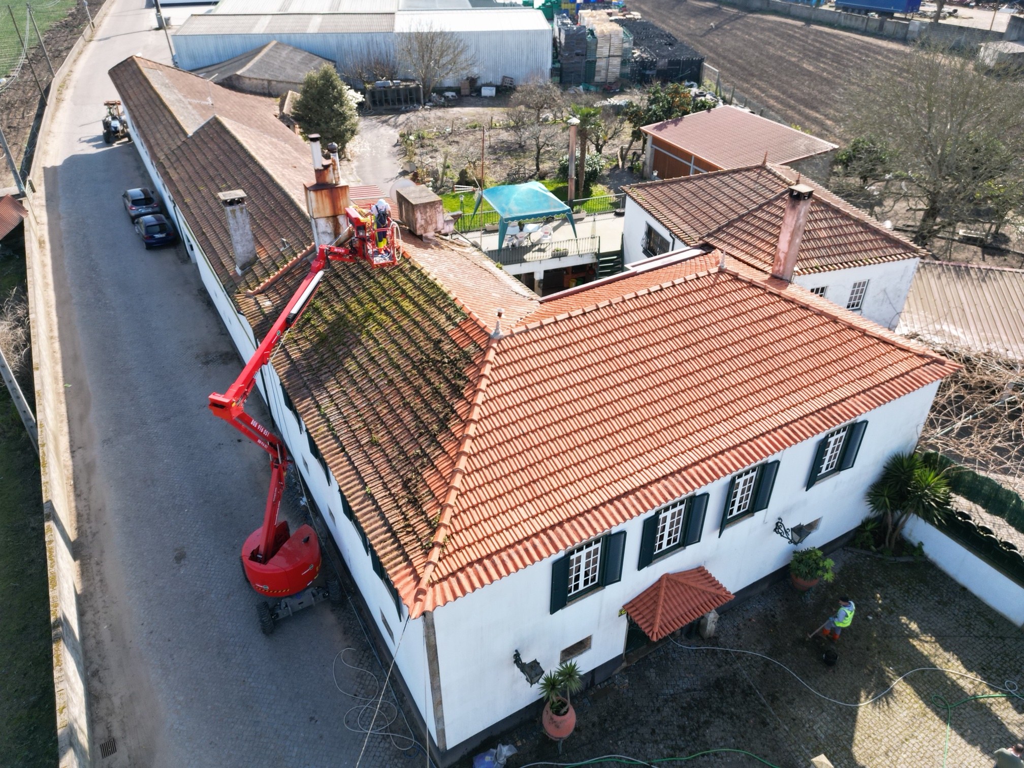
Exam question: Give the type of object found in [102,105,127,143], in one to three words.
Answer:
work vehicle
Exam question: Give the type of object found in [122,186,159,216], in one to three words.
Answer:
car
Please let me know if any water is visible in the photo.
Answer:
No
